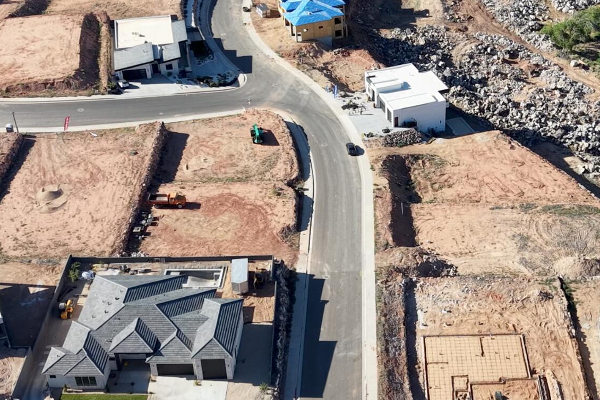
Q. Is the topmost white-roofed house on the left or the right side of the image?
left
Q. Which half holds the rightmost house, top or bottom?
top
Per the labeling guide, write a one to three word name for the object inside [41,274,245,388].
house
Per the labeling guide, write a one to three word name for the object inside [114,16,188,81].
house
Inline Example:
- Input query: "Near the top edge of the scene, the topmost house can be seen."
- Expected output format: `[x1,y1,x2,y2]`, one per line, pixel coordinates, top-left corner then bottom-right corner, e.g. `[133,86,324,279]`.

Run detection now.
[277,0,346,41]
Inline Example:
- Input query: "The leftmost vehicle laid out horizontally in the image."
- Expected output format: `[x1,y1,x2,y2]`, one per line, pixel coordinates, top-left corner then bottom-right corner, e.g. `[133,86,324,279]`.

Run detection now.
[145,191,186,209]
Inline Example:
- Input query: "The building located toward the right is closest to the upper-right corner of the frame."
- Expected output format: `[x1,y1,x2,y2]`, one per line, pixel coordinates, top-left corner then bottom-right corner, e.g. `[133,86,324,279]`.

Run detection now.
[365,63,448,127]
